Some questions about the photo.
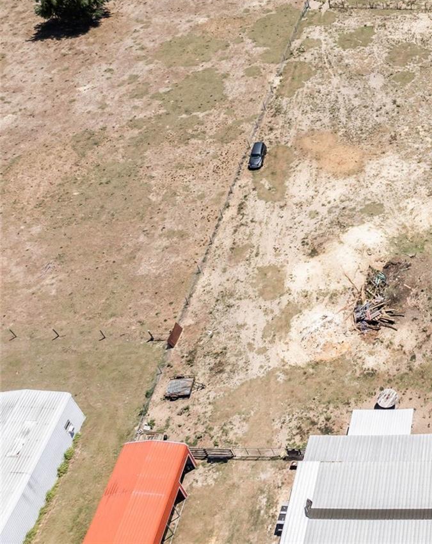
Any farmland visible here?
Yes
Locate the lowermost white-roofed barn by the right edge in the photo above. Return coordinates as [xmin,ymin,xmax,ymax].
[279,436,432,544]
